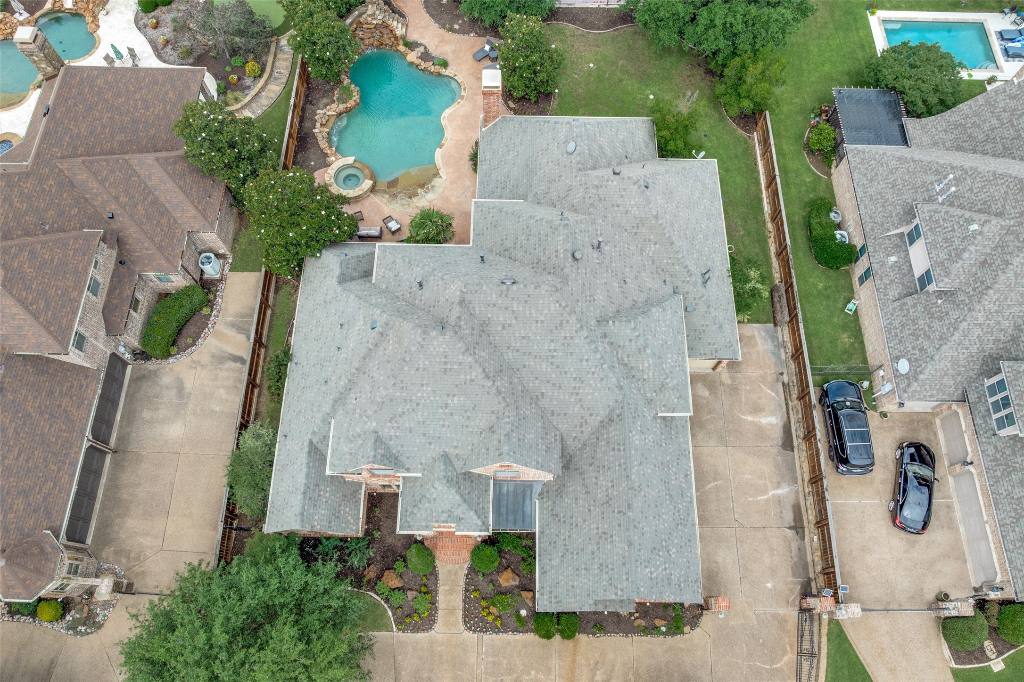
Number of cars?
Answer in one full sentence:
In total, 2 cars can be seen.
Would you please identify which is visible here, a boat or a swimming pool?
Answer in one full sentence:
The one in the frame is a swimming pool.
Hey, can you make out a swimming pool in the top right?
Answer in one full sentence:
Yes, a swimming pool is visible in the top right.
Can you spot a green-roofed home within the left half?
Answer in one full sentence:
No, the scene shows no green-roofed home within the left half.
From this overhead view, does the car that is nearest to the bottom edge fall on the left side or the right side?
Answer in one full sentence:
It is on the right.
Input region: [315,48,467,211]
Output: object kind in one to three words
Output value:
swimming pool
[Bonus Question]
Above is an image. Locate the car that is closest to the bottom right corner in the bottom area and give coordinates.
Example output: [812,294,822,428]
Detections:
[888,436,944,536]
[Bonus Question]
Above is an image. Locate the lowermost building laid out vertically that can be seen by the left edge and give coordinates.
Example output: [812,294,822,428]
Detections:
[0,18,242,603]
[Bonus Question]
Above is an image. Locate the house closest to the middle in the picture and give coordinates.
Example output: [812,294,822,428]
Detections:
[263,65,743,615]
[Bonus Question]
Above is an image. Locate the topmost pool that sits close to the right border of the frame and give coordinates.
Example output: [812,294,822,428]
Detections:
[877,16,1005,72]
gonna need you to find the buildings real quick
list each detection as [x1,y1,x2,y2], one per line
[0,18,242,603]
[263,65,743,615]
[834,57,1024,602]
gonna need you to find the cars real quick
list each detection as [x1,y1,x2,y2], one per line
[888,436,944,536]
[819,379,880,476]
